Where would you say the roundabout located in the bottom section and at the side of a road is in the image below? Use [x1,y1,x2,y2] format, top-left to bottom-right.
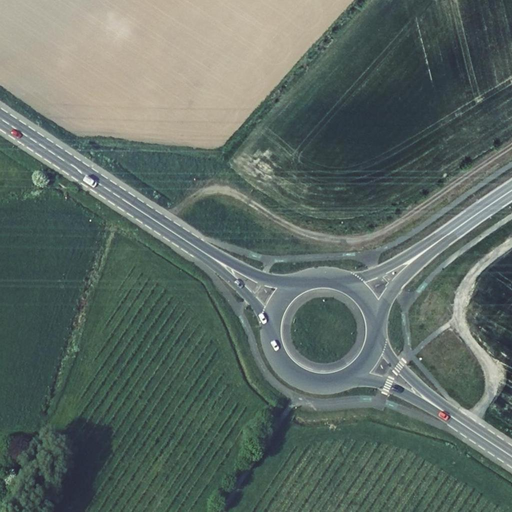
[260,268,386,394]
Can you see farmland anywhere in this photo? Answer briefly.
Yes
